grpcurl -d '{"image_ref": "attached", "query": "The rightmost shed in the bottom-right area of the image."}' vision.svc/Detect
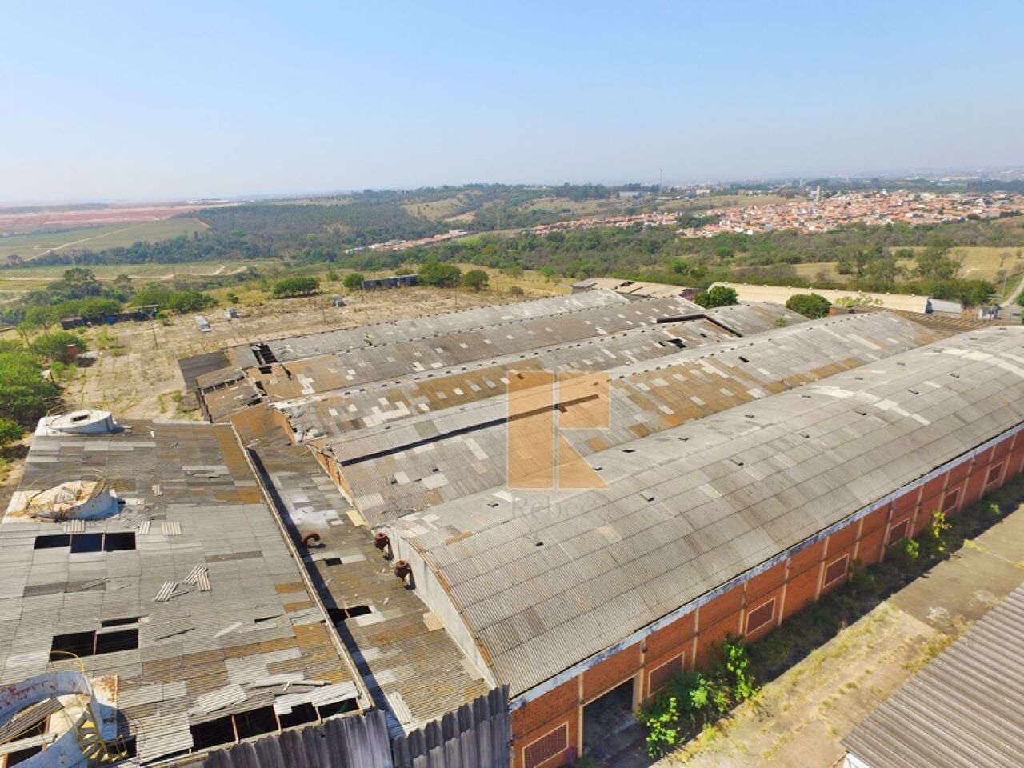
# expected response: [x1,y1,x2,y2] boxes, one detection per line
[842,588,1024,768]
